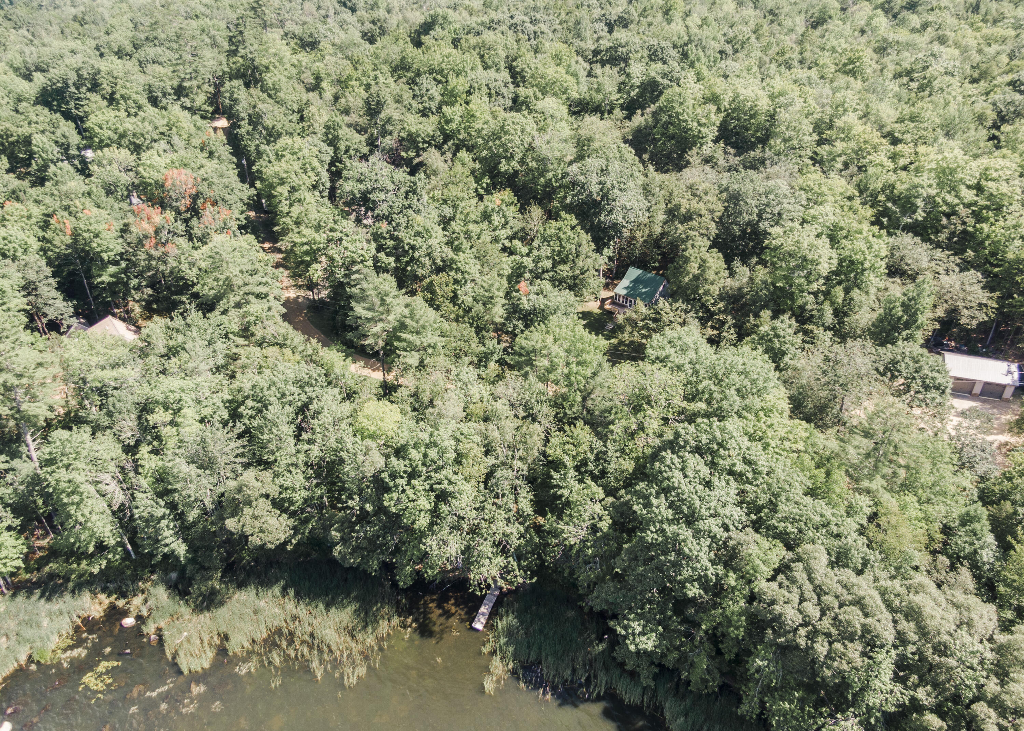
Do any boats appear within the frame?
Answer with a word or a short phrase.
No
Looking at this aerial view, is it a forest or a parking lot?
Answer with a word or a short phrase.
forest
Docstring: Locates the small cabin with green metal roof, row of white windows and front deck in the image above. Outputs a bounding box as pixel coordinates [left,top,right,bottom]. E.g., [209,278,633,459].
[603,266,670,325]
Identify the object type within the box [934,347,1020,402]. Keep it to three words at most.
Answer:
building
